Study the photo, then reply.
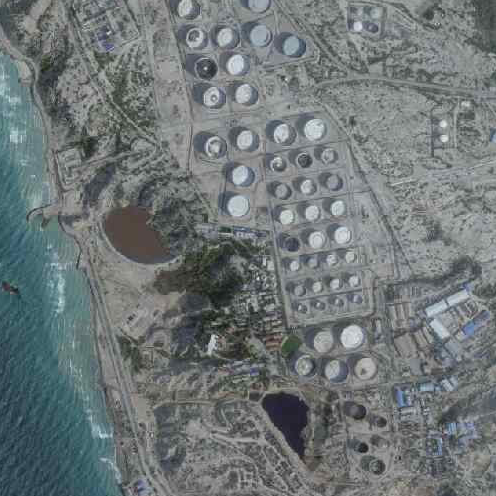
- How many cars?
none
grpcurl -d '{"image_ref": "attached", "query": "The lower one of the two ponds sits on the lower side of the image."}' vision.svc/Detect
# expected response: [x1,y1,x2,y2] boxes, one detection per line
[262,392,308,457]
